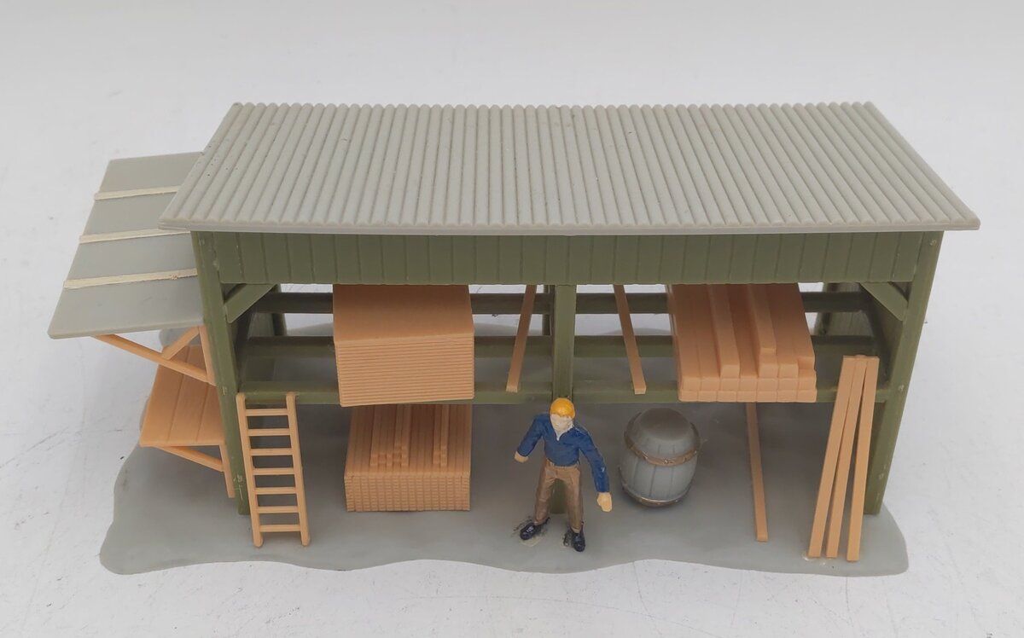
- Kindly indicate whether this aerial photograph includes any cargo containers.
No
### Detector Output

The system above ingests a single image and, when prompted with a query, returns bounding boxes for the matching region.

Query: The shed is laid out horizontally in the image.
[49,100,979,515]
